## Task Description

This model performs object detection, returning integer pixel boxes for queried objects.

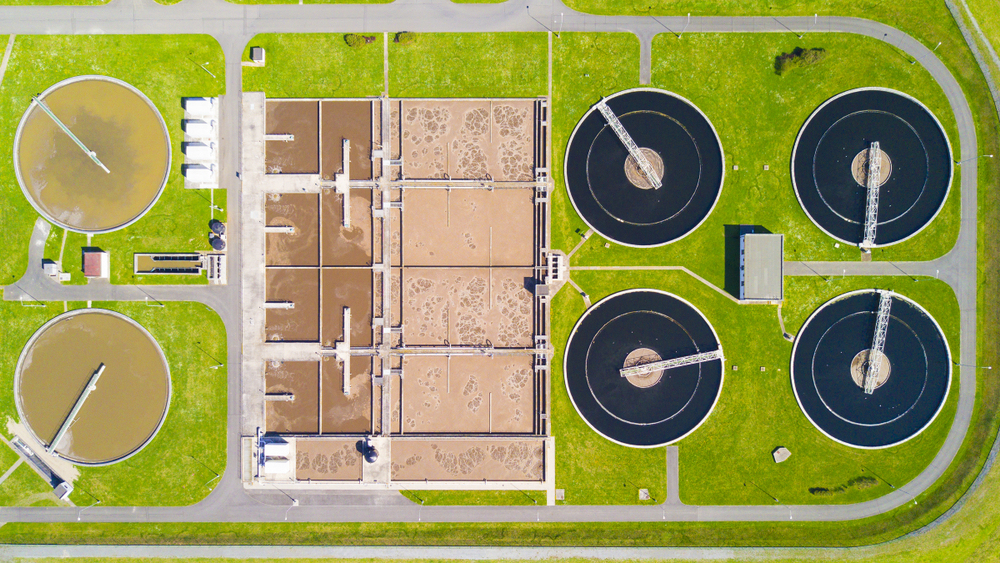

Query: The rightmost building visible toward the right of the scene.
[740,234,784,300]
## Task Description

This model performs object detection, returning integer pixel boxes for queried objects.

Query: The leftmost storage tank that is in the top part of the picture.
[13,74,173,232]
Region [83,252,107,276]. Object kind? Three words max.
house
